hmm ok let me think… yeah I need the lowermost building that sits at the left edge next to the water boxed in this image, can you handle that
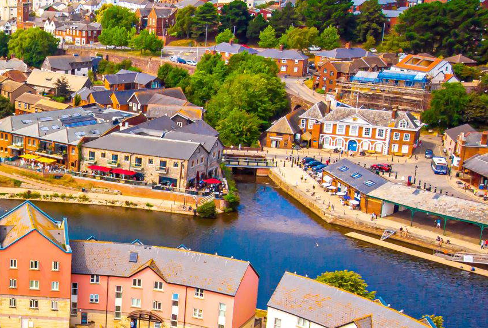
[0,197,75,328]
